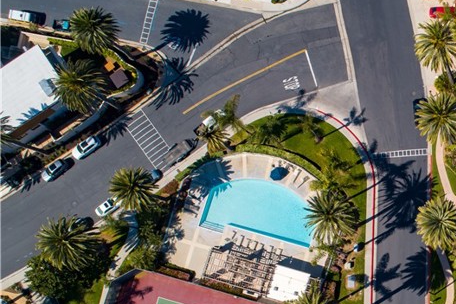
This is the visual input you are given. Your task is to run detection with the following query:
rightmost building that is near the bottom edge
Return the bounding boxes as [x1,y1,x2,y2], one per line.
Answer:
[270,265,313,301]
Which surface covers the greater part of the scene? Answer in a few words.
paved ground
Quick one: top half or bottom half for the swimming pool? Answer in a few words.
bottom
